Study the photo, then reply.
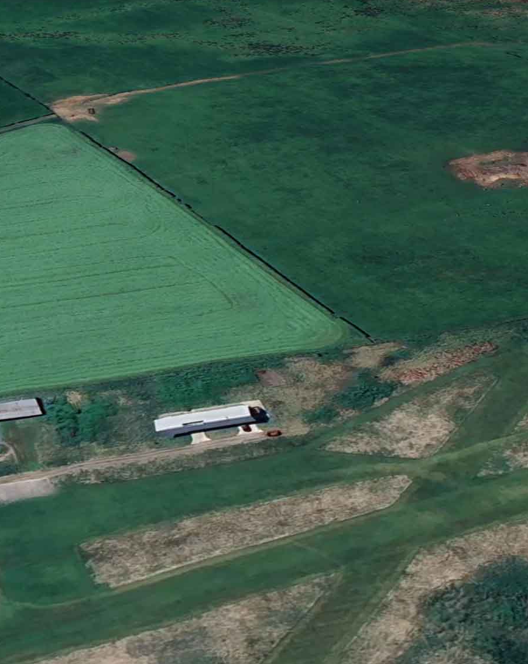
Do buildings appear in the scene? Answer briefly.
Yes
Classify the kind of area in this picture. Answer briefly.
farmland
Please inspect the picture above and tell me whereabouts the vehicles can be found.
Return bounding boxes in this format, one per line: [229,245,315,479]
[267,429,281,434]
[243,423,251,431]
